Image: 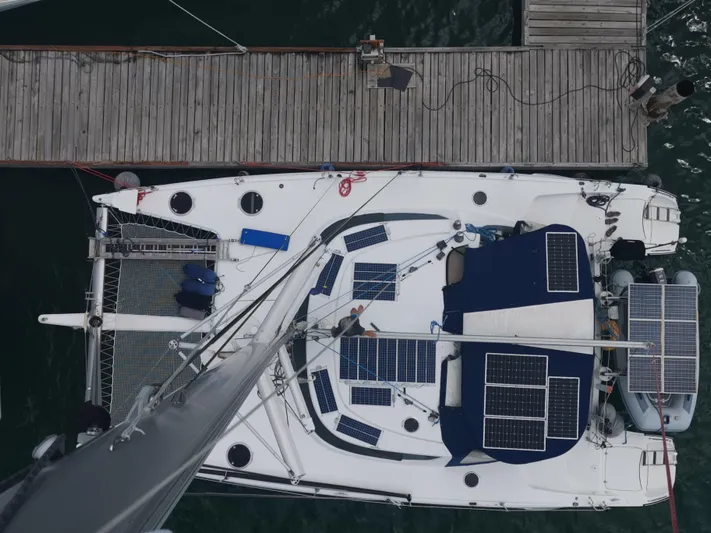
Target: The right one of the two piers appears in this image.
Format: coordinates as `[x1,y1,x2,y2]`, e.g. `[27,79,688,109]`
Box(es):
[522,0,647,46]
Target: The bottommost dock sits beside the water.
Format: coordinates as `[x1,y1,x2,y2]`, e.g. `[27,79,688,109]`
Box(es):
[0,45,648,171]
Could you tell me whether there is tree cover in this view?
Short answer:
No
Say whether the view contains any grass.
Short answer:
No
